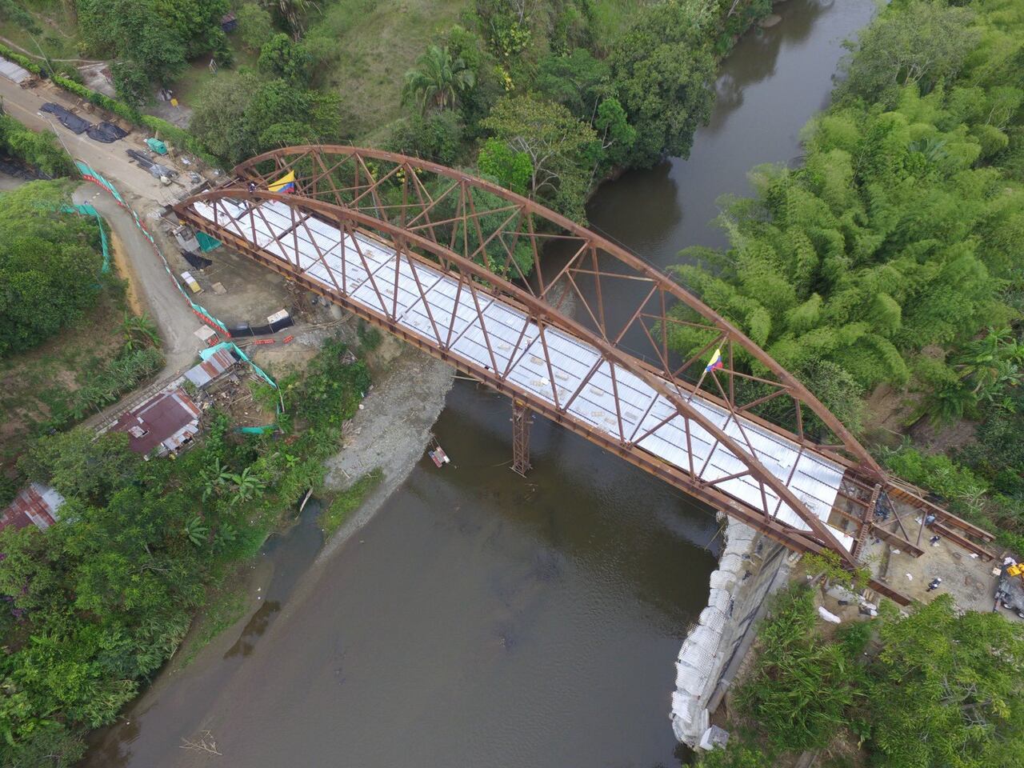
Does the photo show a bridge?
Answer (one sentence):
Yes, this view includes a bridge.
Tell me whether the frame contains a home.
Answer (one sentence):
Yes, there is a home in the image.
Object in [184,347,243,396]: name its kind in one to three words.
shed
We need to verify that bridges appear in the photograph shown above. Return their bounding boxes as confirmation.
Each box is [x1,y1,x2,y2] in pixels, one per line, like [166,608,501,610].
[171,133,889,581]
